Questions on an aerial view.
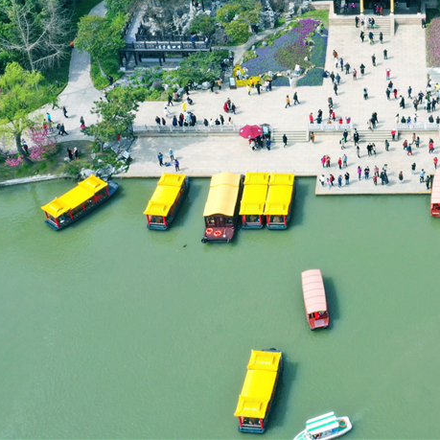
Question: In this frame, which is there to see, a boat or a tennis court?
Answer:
boat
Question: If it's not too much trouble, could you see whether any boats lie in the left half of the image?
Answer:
Yes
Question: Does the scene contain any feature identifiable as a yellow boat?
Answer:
Yes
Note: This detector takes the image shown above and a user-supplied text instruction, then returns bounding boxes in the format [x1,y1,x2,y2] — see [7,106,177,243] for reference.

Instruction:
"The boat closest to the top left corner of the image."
[39,175,113,236]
